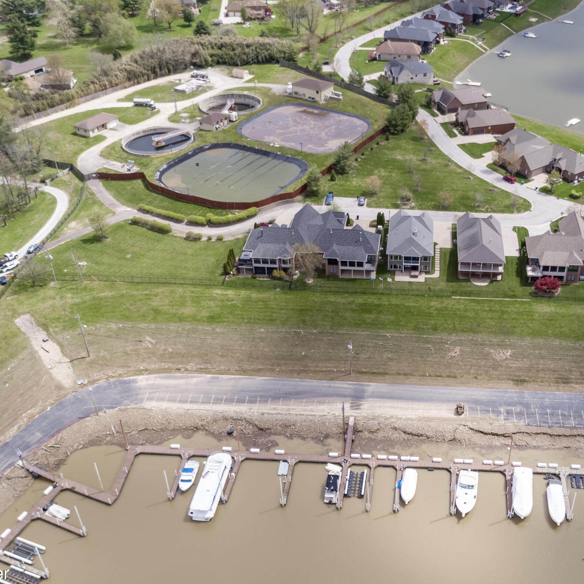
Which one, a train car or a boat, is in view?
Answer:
boat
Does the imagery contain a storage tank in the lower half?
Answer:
No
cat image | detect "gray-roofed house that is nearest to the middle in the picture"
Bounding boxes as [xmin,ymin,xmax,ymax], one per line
[238,206,382,276]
